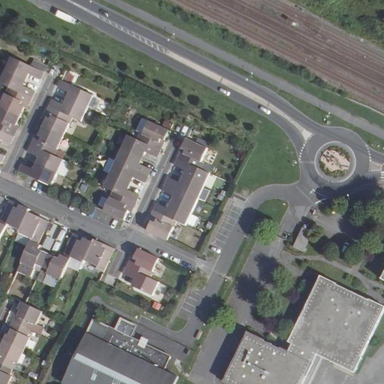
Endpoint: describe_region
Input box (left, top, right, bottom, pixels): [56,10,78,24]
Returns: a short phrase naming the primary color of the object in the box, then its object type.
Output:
white vehicle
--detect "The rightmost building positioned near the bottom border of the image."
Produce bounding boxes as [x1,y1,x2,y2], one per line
[219,276,384,384]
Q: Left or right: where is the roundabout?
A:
right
